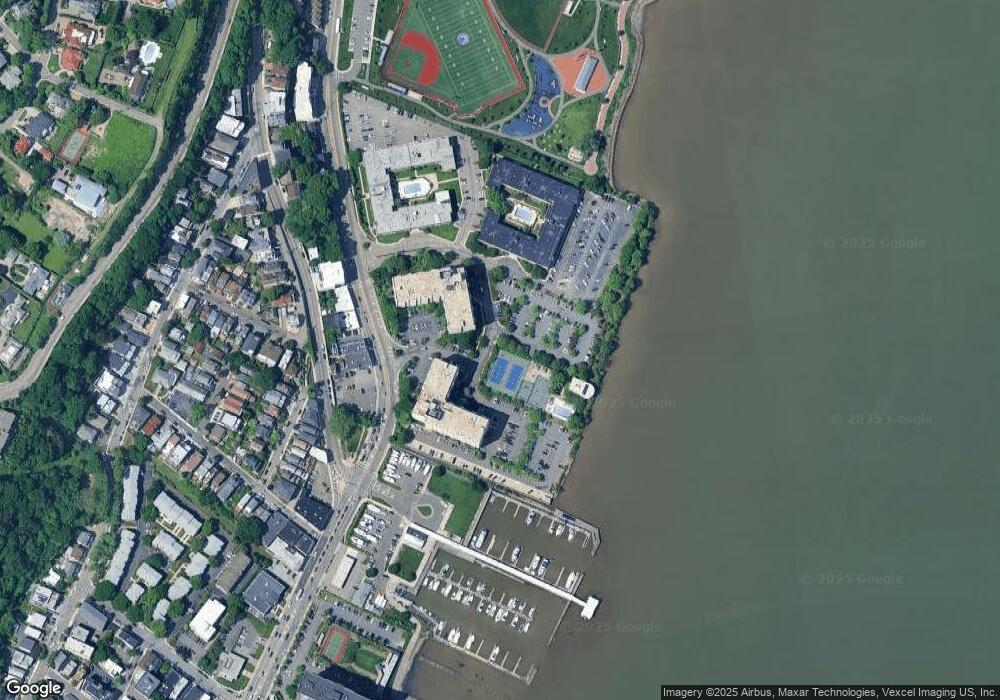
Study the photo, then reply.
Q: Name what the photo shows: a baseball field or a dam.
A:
baseball field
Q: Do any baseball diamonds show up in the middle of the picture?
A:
No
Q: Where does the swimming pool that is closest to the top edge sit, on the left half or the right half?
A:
left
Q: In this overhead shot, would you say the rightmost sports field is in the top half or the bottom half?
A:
top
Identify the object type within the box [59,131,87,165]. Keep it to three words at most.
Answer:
tennis court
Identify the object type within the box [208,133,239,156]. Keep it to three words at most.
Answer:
building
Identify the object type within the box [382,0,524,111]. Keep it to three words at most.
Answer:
sports field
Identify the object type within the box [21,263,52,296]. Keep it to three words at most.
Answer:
house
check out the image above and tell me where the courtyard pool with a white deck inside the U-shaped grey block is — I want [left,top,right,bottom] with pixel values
[398,178,431,199]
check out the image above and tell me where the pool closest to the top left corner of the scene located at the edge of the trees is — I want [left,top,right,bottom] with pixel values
[140,41,162,64]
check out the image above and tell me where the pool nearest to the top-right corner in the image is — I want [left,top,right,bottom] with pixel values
[514,203,537,226]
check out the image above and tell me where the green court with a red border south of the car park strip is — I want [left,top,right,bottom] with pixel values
[321,626,350,663]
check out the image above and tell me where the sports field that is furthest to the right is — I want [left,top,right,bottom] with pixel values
[492,0,562,49]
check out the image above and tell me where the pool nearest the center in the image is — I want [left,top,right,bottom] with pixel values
[546,395,571,420]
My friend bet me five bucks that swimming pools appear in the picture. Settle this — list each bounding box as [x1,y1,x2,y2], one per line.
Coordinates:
[514,203,537,226]
[546,395,571,420]
[398,178,431,199]
[140,41,162,64]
